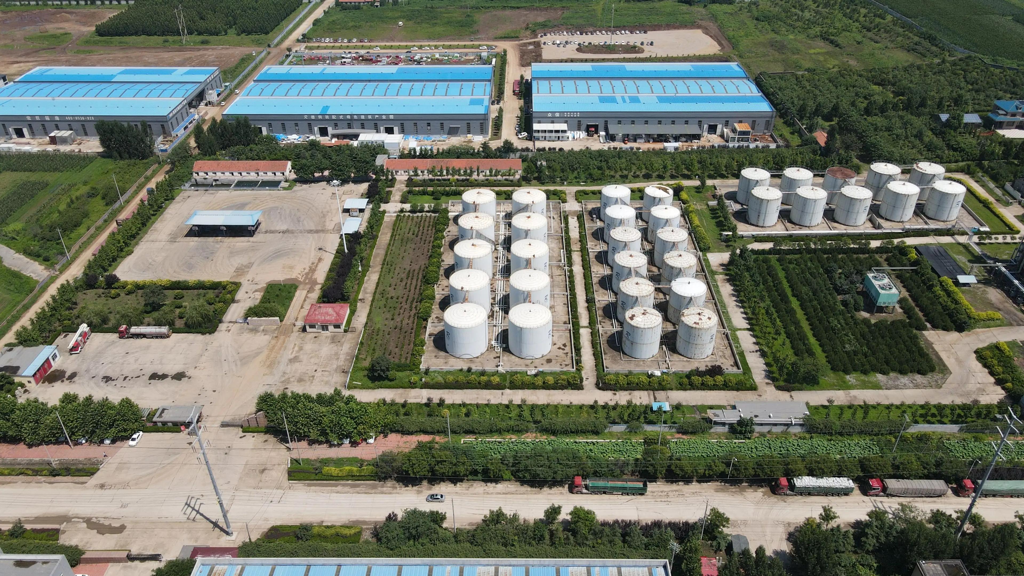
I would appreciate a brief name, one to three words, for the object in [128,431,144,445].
car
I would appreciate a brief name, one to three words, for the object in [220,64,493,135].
building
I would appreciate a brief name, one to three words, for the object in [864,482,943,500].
vehicle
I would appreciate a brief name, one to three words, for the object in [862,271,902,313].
cooling tower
